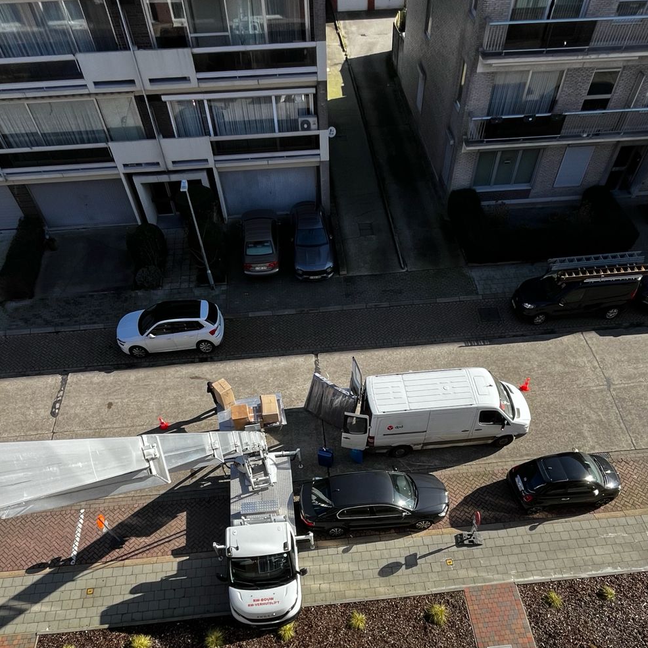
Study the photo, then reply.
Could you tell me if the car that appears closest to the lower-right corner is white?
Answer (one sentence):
No, the car that appears closest to the lower-right corner is black.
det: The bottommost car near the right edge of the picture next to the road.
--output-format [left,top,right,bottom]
[509,443,622,507]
